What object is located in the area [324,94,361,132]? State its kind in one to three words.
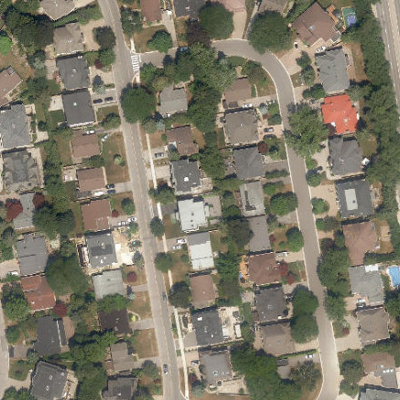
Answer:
house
